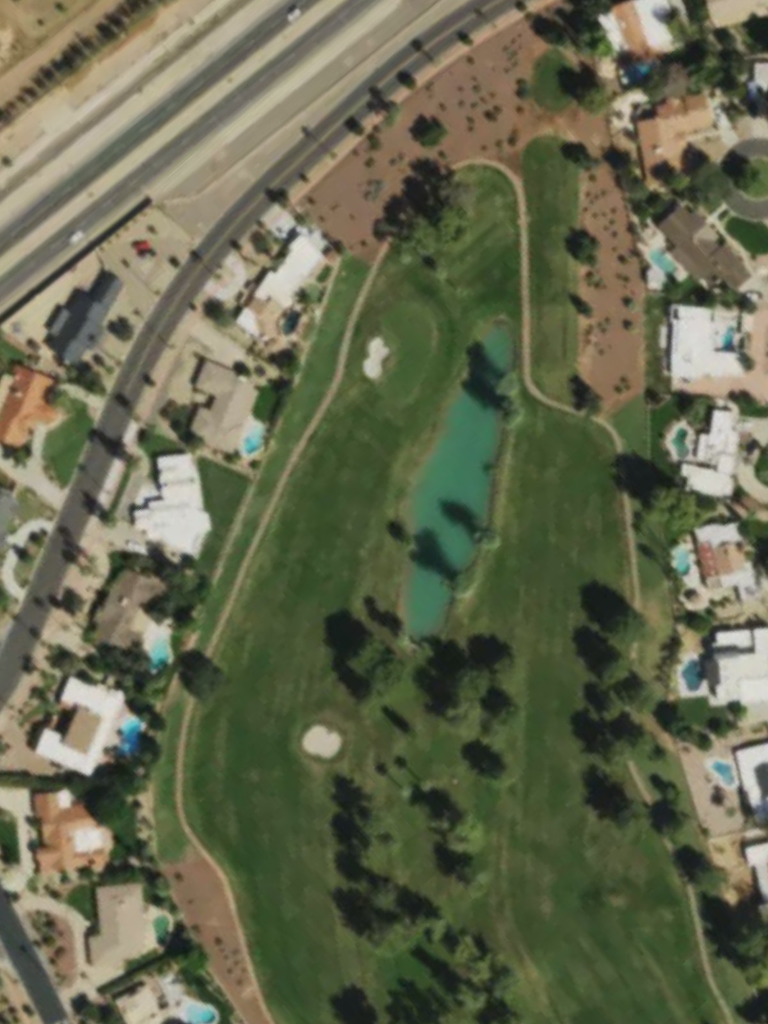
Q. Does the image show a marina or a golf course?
golf course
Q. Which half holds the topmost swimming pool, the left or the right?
right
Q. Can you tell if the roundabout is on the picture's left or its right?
right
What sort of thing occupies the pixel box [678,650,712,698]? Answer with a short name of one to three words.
swimming pool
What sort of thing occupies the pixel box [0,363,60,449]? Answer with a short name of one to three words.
house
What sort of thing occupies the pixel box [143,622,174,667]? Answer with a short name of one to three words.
swimming pool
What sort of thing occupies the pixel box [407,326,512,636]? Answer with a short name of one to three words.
pond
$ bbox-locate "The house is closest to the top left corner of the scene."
[42,265,128,364]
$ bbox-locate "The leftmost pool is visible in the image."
[106,712,141,755]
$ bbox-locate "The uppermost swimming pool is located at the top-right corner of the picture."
[616,58,654,89]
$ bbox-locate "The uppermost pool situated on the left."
[280,307,302,339]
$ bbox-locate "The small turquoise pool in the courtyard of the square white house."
[720,327,737,351]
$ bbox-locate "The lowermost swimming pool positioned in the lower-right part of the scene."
[707,756,737,788]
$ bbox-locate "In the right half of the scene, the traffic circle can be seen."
[719,138,768,220]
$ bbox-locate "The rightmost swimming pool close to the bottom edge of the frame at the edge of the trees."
[178,997,221,1024]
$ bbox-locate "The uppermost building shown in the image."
[603,0,684,58]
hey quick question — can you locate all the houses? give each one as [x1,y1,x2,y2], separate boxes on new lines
[603,0,684,58]
[0,487,23,543]
[42,265,128,364]
[746,843,768,897]
[35,677,124,776]
[31,789,115,873]
[655,196,759,290]
[237,225,327,336]
[682,409,739,497]
[86,884,144,967]
[133,453,211,559]
[0,363,60,449]
[639,97,719,181]
[755,61,768,114]
[695,523,756,601]
[706,628,768,706]
[91,571,165,644]
[189,357,260,454]
[672,306,744,382]
[736,744,768,809]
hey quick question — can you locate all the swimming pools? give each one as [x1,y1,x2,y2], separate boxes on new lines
[707,756,737,788]
[178,997,221,1024]
[639,225,688,289]
[144,906,174,948]
[720,327,737,351]
[678,650,712,698]
[664,420,698,463]
[106,712,141,755]
[143,622,174,667]
[241,418,264,454]
[616,58,654,89]
[280,307,302,339]
[671,540,709,613]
